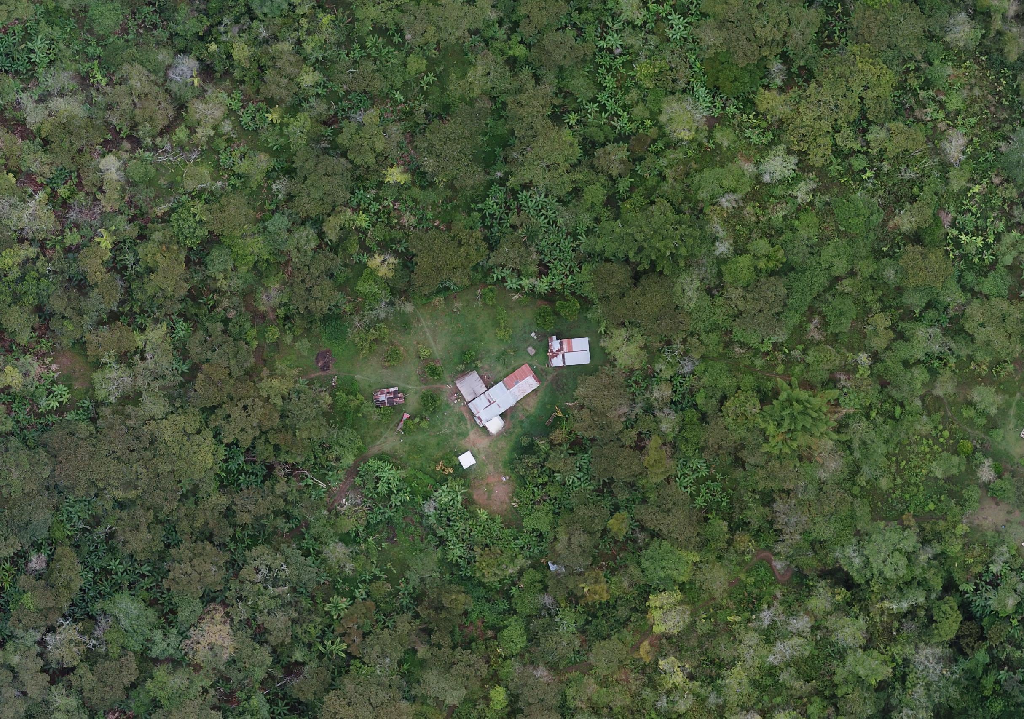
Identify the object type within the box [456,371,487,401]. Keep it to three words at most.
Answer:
barn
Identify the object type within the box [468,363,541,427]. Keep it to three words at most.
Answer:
house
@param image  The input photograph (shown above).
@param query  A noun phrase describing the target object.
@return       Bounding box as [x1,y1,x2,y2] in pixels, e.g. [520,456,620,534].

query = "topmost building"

[547,336,590,367]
